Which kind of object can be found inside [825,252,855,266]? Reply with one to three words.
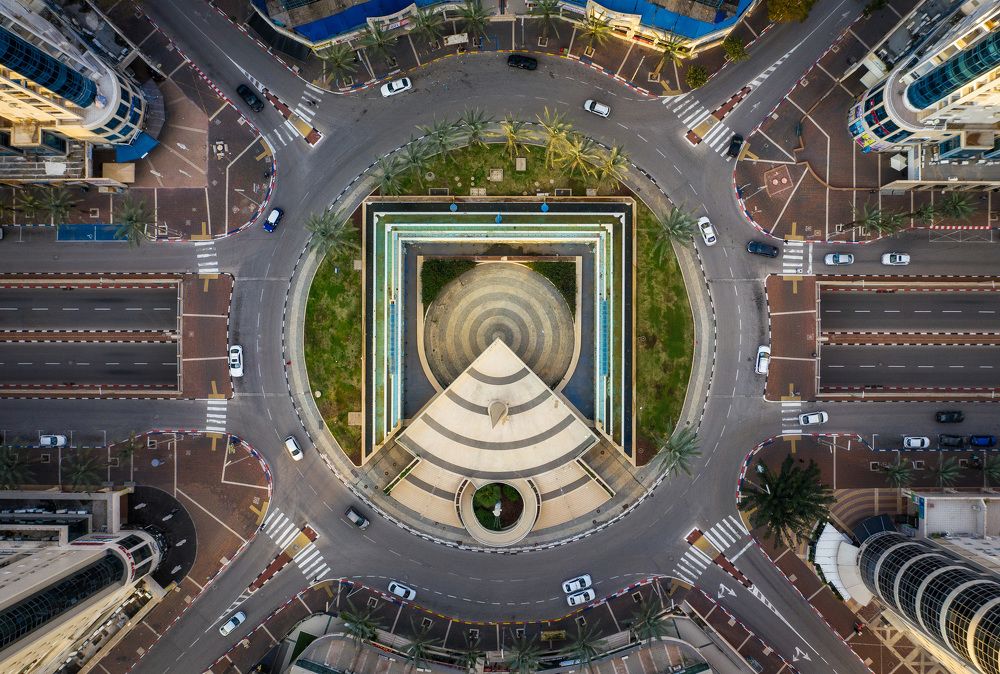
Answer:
vehicle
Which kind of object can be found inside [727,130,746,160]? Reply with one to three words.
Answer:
car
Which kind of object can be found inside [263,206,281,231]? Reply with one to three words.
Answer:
car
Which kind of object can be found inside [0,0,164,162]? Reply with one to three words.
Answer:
building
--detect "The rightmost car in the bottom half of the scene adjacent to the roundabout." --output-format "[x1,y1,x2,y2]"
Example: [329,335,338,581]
[800,411,829,426]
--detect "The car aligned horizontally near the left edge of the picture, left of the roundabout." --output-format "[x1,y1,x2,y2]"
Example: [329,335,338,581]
[37,435,64,447]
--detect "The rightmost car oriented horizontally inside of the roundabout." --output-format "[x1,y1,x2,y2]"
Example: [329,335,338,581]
[748,239,779,256]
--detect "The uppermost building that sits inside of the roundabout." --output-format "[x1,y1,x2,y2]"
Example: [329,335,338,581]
[382,339,615,547]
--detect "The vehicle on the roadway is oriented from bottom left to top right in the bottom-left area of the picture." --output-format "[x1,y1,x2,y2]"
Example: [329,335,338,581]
[216,612,244,638]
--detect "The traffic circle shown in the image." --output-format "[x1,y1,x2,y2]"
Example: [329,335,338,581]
[206,51,793,624]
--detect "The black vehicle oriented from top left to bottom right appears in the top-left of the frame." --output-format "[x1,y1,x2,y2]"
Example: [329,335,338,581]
[234,82,263,110]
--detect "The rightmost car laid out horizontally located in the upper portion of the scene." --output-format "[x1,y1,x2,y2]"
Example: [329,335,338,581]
[882,251,913,265]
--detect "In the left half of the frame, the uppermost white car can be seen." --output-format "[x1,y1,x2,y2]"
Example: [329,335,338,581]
[381,77,411,95]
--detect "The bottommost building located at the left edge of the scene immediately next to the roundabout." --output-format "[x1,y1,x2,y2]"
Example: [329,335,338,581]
[0,525,170,674]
